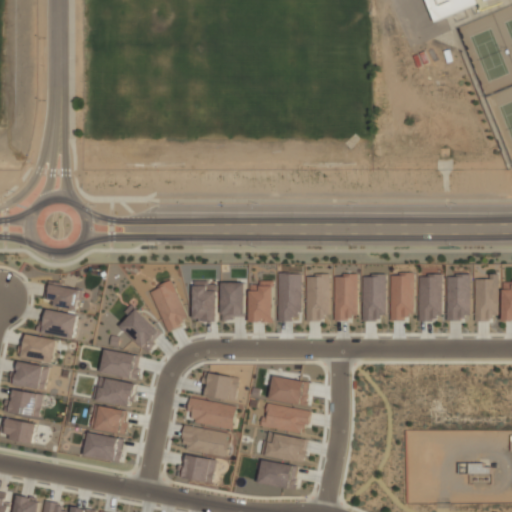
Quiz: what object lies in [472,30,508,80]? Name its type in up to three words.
tennis court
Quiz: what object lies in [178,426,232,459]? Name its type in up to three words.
house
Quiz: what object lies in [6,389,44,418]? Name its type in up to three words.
house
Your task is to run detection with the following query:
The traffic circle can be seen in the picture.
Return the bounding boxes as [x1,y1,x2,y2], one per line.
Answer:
[0,122,122,256]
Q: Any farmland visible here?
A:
Yes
